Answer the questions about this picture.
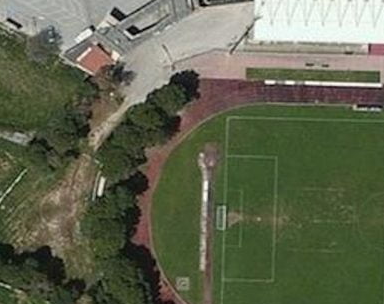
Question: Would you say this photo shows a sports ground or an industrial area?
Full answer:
The picture captures a sports ground.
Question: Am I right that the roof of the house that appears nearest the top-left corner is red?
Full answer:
Yes, the roof of the house that appears nearest the top-left corner is red.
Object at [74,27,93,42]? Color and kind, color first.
white vehicle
